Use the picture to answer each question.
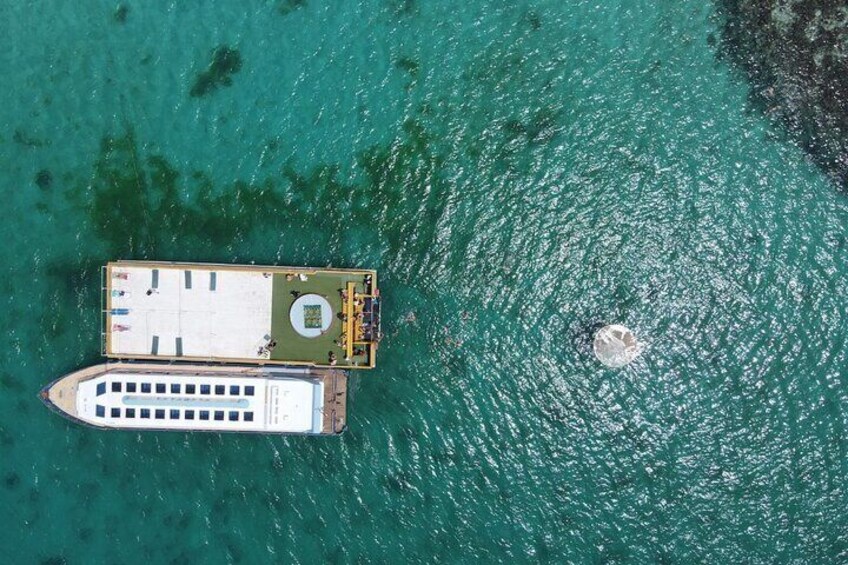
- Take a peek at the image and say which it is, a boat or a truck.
boat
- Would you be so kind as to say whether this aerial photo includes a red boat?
No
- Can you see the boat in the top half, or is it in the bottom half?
bottom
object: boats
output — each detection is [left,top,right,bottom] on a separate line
[37,363,349,435]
